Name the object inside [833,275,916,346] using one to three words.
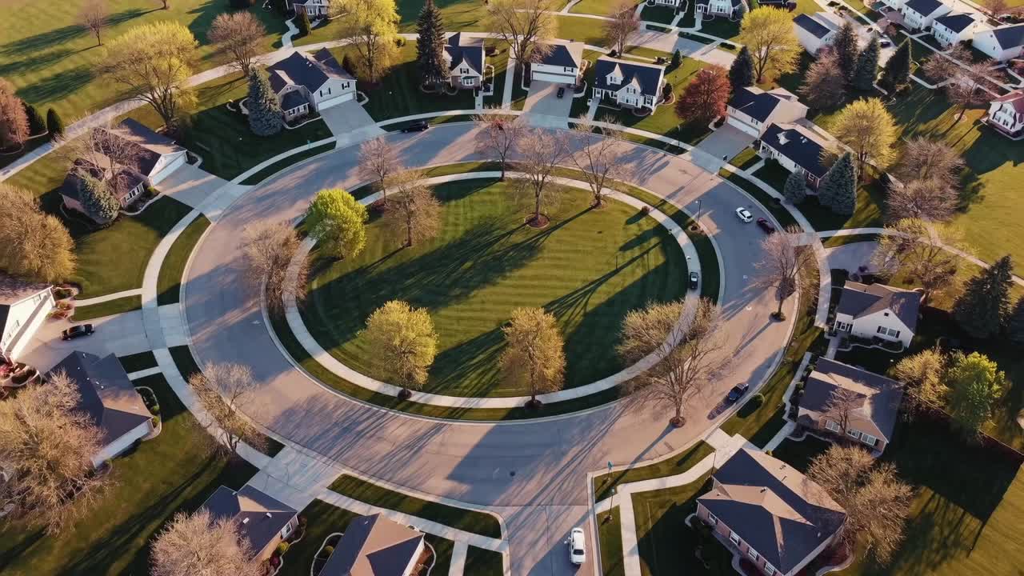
house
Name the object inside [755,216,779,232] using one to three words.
car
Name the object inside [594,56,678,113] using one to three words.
house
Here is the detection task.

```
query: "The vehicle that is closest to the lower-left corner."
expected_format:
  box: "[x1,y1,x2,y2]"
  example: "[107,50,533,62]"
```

[61,322,94,338]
